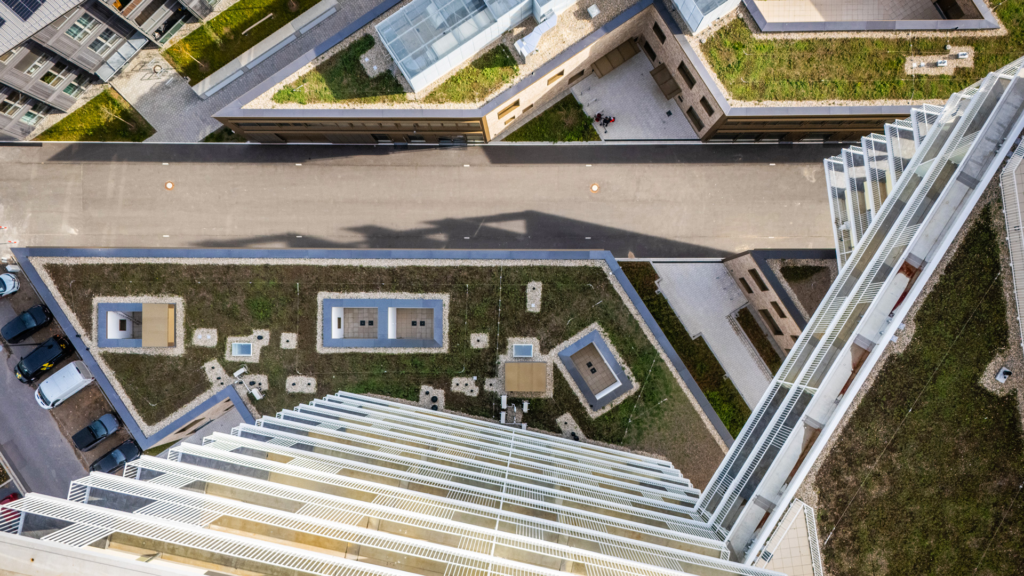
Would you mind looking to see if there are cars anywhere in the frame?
Yes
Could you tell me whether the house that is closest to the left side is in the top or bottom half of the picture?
top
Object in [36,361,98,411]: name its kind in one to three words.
van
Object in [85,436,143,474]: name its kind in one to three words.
car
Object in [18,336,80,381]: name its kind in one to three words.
van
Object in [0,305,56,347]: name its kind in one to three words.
car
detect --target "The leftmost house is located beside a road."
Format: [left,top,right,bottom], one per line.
[0,0,151,140]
